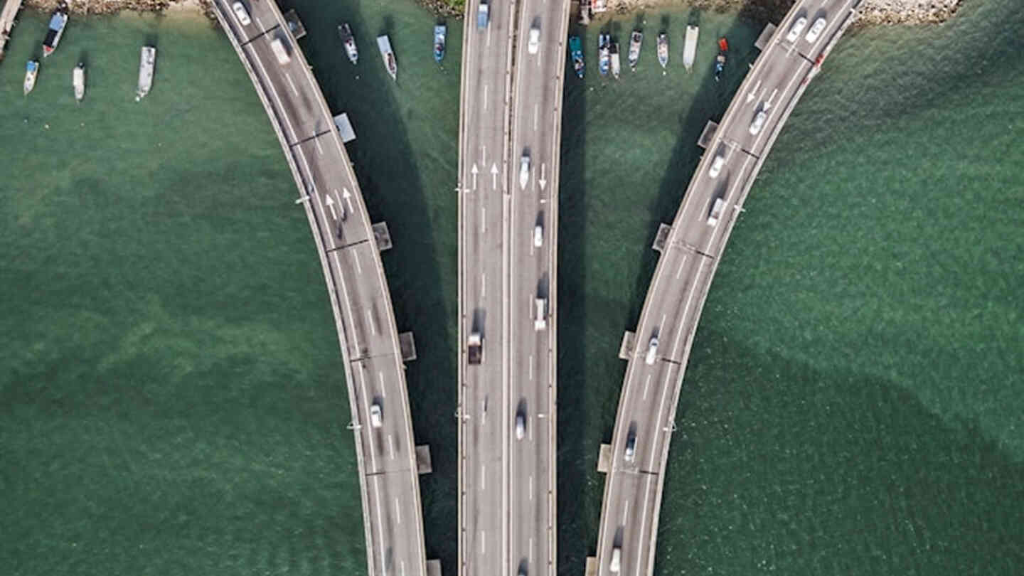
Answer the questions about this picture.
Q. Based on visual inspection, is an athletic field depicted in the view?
No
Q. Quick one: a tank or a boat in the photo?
boat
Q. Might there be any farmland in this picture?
No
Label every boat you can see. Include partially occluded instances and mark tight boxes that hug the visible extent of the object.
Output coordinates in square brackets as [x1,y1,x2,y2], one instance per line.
[609,41,621,86]
[23,58,40,103]
[134,44,155,103]
[434,24,446,71]
[74,62,88,107]
[339,23,357,69]
[628,29,642,74]
[42,11,68,63]
[714,34,728,89]
[377,33,399,90]
[656,32,669,68]
[570,35,584,79]
[598,33,610,83]
[683,23,700,83]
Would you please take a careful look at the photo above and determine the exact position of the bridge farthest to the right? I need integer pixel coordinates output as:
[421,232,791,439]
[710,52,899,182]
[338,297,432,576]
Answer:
[584,0,867,576]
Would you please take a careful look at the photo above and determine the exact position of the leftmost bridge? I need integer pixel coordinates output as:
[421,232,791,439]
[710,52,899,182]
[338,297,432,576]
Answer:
[208,0,444,576]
